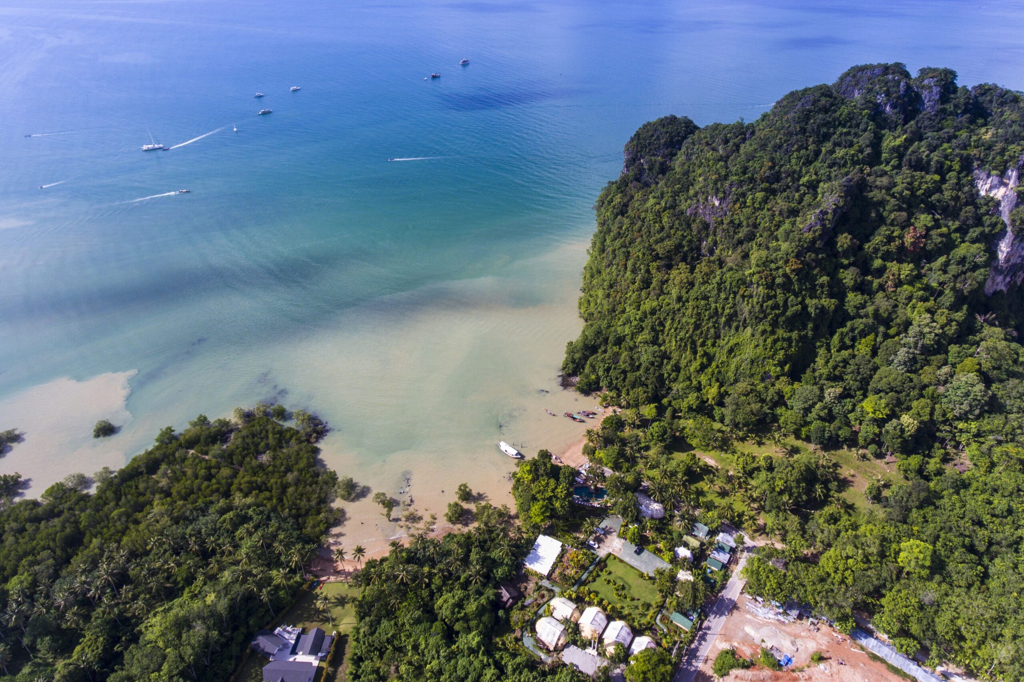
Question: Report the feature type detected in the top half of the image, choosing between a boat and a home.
boat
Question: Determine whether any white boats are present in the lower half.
Yes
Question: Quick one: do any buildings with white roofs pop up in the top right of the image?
No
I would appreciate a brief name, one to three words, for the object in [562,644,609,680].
house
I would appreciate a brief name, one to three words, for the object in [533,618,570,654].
house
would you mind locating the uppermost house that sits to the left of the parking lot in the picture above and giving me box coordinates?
[524,537,562,580]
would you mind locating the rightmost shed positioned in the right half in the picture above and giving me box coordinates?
[853,631,943,682]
